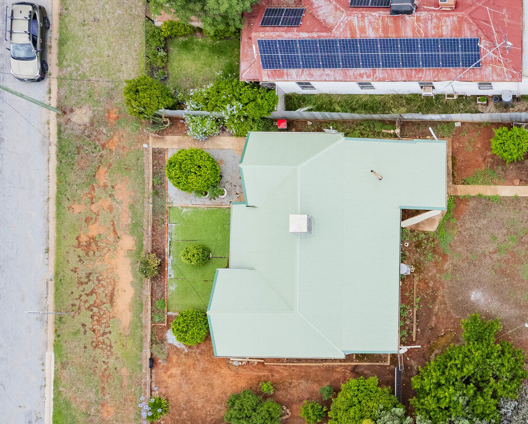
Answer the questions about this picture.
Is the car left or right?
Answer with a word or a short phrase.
left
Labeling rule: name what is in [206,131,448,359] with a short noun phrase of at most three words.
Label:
house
